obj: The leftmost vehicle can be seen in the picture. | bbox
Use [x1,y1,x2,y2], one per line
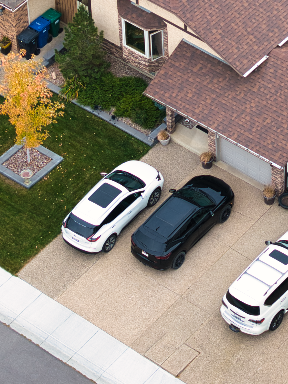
[52,161,161,259]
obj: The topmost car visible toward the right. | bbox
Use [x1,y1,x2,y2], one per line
[124,176,233,277]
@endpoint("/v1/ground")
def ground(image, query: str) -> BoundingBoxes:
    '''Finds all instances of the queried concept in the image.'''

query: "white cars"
[52,161,161,259]
[214,230,288,341]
